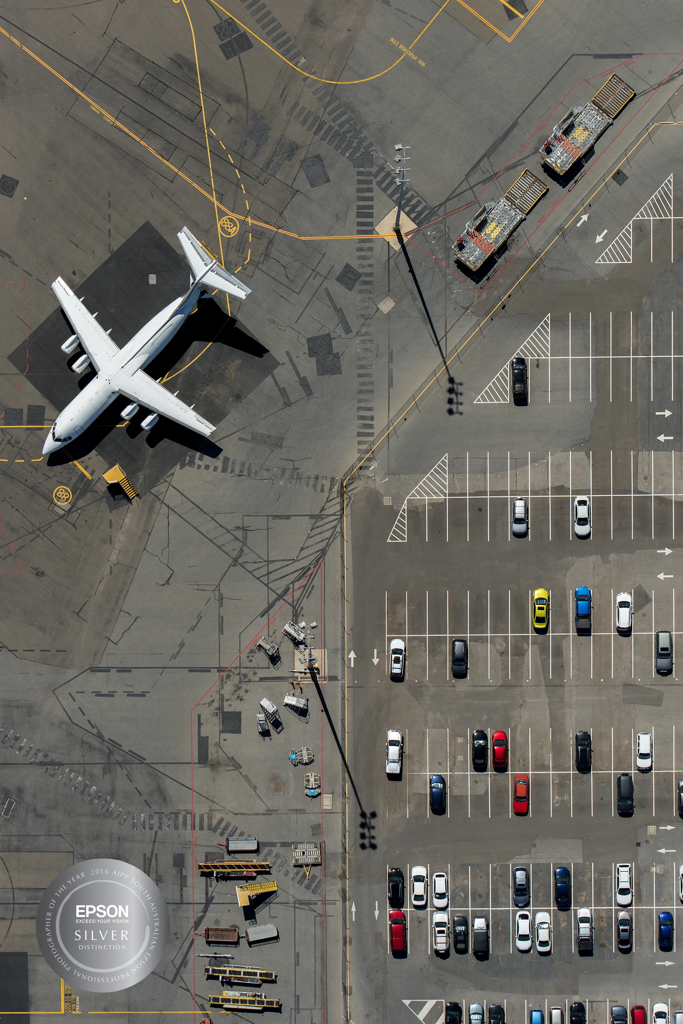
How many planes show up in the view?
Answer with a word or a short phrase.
one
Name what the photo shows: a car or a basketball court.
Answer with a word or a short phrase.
car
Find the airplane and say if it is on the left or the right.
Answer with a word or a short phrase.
left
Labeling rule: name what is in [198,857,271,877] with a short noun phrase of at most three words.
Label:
work vehicle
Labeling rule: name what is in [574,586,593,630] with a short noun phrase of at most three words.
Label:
vehicle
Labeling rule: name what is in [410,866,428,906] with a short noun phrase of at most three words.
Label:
car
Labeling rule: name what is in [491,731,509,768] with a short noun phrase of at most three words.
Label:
car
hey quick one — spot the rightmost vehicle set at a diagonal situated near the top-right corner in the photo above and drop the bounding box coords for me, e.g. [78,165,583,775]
[541,76,639,176]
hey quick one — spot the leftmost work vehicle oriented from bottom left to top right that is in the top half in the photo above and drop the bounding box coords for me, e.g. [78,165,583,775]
[453,173,551,273]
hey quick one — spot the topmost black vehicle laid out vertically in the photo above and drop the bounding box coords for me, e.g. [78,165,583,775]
[510,358,529,399]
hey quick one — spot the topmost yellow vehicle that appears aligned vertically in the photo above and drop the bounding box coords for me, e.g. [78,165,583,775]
[531,588,550,629]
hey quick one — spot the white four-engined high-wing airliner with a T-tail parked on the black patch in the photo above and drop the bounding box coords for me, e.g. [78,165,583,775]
[42,226,253,455]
